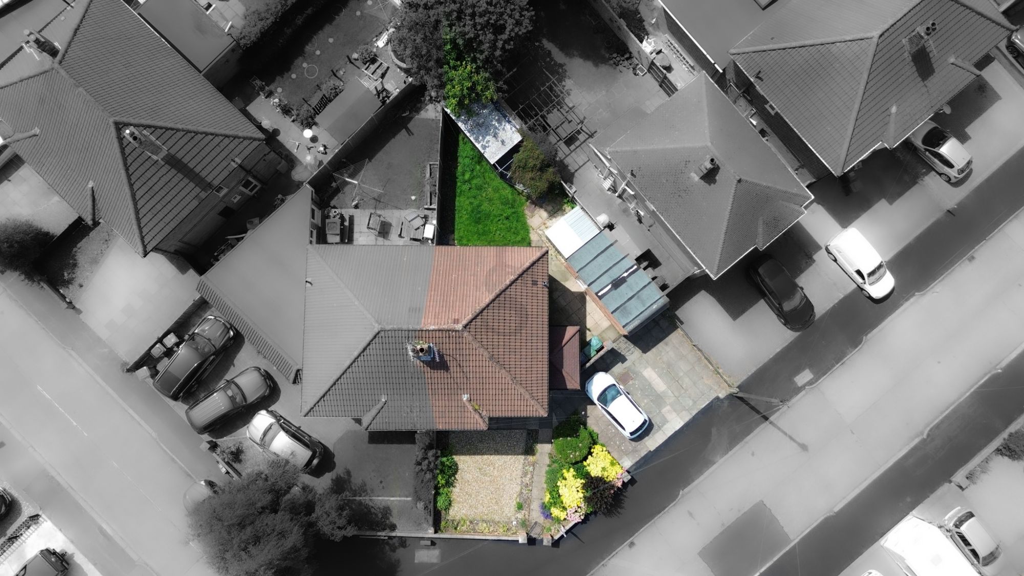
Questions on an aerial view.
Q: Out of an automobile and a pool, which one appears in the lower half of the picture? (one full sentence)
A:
It is an automobile that can be seen in the lower half of the picture.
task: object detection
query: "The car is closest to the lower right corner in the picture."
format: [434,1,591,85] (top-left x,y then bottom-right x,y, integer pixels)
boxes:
[939,505,1009,576]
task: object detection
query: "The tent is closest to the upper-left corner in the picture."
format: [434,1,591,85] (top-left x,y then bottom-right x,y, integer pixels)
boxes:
[291,159,316,179]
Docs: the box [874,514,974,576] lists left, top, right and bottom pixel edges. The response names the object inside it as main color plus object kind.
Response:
white camper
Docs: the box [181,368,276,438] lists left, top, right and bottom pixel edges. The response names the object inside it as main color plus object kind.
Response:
gray car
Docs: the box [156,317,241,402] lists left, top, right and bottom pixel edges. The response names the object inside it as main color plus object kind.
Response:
gray car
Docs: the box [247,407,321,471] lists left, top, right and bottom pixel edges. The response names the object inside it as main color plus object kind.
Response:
white car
